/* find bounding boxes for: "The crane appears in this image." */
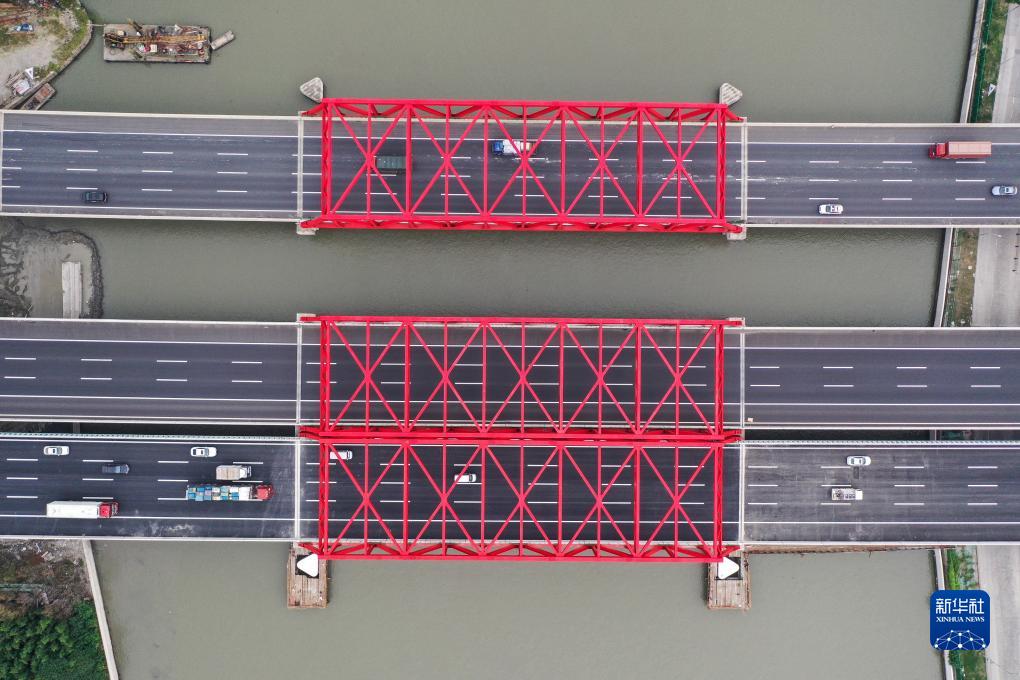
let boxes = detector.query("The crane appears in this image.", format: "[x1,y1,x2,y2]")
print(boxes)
[104,29,206,52]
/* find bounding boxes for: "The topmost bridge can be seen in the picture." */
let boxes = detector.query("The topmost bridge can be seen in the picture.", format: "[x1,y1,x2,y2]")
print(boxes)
[0,99,1020,241]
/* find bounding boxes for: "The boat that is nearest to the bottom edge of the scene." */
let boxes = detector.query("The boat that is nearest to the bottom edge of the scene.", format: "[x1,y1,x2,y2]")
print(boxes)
[19,80,60,111]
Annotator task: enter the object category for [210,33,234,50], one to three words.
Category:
boat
